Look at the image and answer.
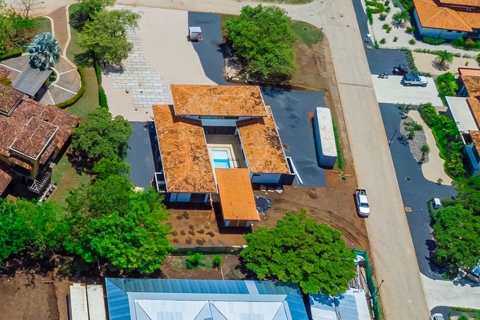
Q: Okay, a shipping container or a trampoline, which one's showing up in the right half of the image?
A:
shipping container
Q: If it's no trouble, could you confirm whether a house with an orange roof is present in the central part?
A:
Yes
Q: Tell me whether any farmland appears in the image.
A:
No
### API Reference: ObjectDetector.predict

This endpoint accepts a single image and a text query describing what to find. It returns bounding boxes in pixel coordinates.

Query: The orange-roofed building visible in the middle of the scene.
[152,84,289,206]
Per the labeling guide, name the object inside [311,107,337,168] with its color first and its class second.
white shipping container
